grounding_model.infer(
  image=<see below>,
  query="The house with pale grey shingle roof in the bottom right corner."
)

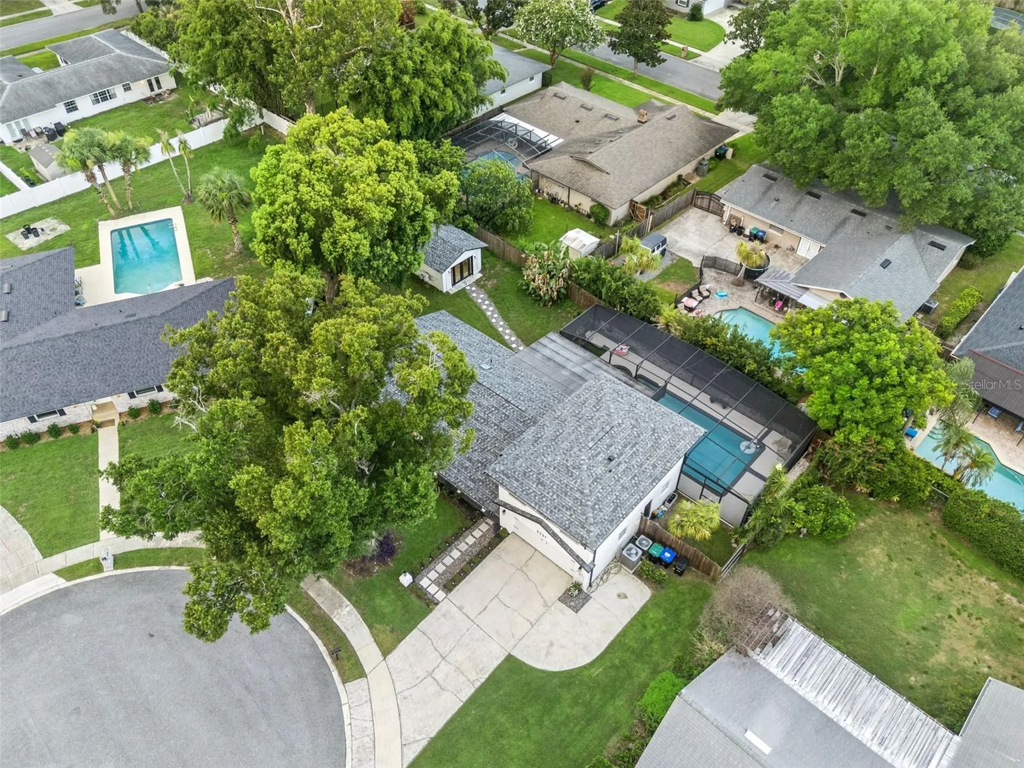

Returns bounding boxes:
[641,646,898,768]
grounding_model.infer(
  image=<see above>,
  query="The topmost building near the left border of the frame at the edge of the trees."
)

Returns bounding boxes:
[0,36,169,148]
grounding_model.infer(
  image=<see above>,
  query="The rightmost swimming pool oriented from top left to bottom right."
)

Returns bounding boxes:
[924,422,1024,506]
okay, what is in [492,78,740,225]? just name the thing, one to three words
house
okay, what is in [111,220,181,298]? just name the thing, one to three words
swimming pool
